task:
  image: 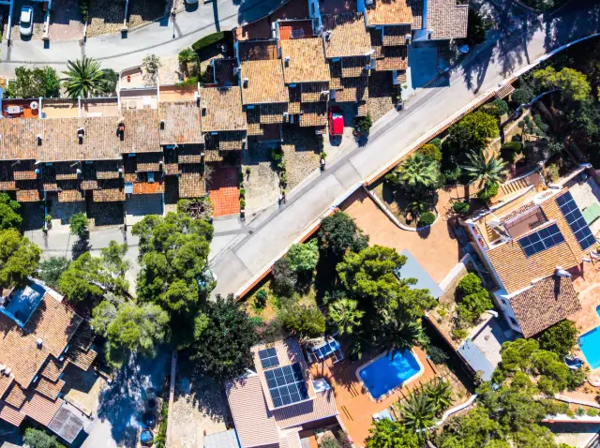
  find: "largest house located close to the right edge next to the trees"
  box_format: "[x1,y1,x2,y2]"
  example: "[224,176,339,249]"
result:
[465,188,598,338]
